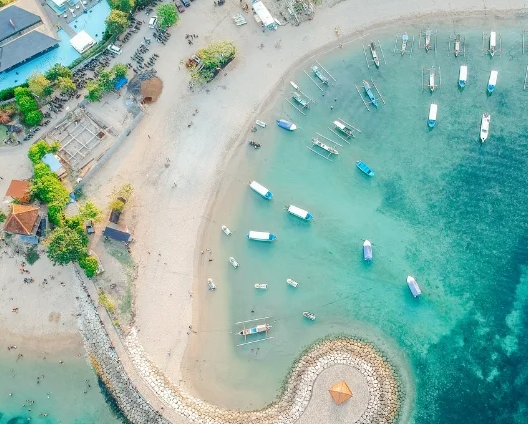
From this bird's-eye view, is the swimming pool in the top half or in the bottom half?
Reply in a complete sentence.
Seen from above, the swimming pool lies in the top half of the view.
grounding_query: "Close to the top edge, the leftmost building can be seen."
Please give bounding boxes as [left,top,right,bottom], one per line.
[0,0,66,75]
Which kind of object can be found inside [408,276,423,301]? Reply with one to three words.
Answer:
boat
